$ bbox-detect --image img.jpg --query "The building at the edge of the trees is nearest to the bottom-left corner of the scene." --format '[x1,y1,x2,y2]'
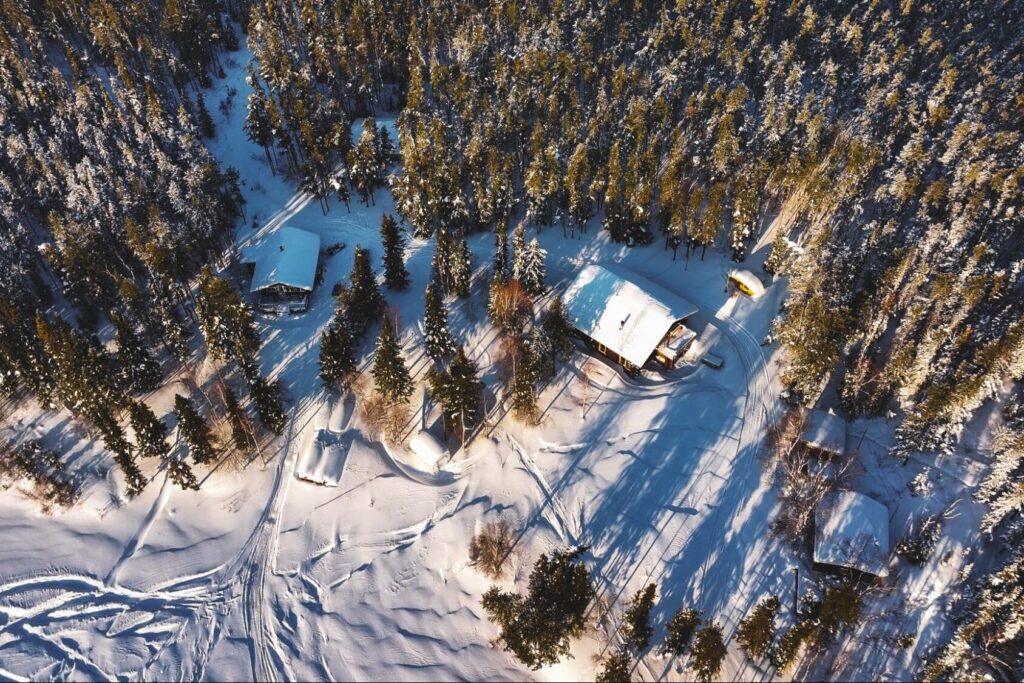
[288,428,352,488]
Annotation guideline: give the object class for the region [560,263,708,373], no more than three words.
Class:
building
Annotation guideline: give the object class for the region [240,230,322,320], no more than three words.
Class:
building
